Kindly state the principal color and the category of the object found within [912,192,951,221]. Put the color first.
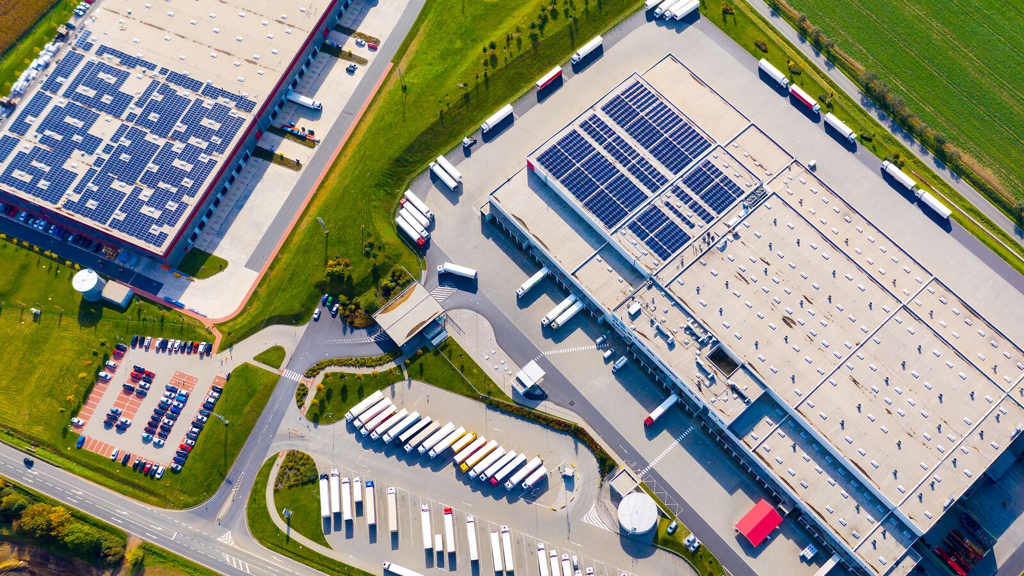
white truck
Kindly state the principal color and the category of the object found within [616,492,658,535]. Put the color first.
white water tank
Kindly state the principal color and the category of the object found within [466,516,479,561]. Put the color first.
white vehicle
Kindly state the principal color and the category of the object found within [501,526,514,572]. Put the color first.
white vehicle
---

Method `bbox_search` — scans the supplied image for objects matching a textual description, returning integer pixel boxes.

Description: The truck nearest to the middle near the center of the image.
[516,268,550,299]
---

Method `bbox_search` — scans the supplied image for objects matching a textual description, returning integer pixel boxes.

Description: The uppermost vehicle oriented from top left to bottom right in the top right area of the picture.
[756,60,788,91]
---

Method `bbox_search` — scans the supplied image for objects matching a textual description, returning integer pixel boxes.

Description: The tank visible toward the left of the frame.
[72,269,108,300]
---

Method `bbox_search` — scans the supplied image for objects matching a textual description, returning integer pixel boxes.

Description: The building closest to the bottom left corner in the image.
[101,280,136,308]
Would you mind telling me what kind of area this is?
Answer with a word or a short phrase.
industrial area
